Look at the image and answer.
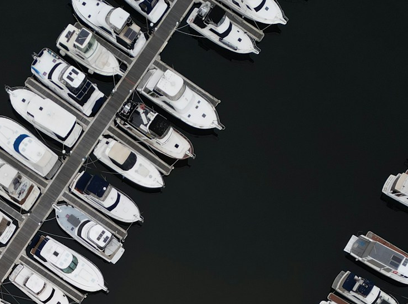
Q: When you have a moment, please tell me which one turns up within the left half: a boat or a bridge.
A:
boat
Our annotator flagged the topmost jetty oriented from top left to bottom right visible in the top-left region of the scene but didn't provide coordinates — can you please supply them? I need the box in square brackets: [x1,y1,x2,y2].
[71,21,133,67]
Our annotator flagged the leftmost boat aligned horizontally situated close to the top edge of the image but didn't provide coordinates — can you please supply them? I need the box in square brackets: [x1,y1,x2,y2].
[118,0,167,23]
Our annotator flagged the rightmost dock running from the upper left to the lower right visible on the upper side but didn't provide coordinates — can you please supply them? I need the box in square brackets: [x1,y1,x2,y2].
[197,0,262,41]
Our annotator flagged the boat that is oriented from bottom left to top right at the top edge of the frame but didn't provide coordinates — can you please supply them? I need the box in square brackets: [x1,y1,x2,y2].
[190,5,209,24]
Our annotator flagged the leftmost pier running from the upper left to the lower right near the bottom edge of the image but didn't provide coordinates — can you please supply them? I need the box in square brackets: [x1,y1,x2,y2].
[19,253,86,303]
